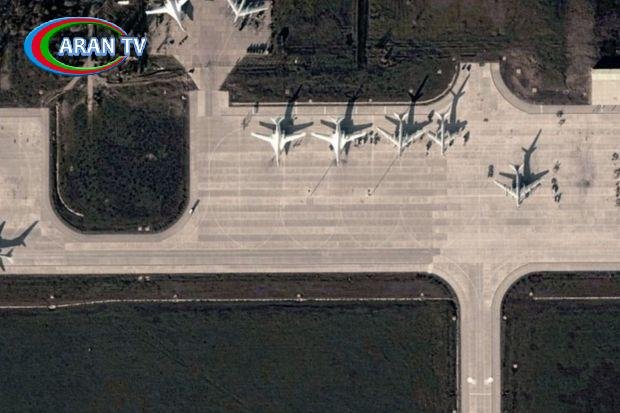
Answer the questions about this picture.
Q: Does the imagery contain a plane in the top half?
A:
Yes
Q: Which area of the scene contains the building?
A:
top right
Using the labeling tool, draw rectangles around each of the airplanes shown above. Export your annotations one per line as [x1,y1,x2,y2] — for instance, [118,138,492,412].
[376,112,425,157]
[226,0,267,22]
[493,161,542,206]
[427,111,459,158]
[143,0,185,31]
[249,116,305,165]
[0,249,13,263]
[310,116,366,165]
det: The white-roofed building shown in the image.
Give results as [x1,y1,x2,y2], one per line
[592,68,620,105]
